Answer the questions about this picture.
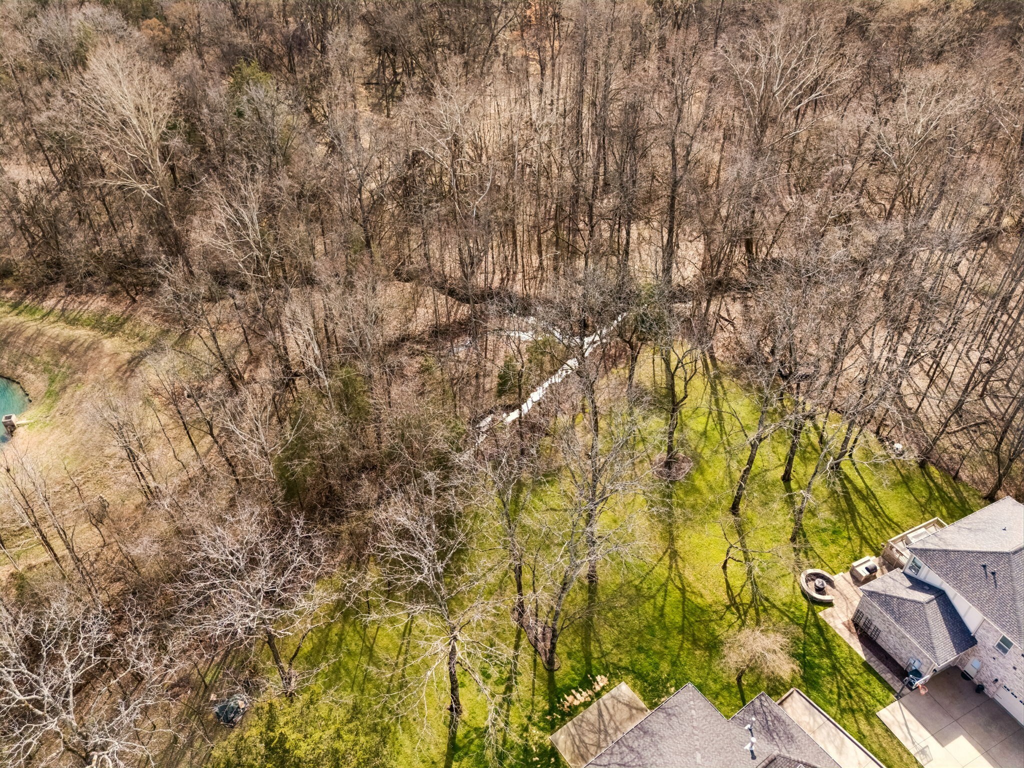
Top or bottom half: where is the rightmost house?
bottom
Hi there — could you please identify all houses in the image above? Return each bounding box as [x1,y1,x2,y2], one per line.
[854,495,1024,727]
[579,681,832,768]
